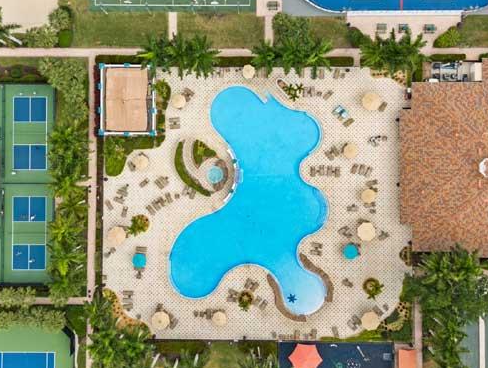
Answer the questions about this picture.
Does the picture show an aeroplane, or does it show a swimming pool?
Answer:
swimming pool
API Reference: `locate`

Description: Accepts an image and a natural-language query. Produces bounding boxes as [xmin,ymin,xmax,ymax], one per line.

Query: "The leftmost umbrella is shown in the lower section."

[106,227,125,245]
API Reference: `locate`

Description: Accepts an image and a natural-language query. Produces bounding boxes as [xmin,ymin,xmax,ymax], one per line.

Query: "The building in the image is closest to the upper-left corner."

[97,63,156,136]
